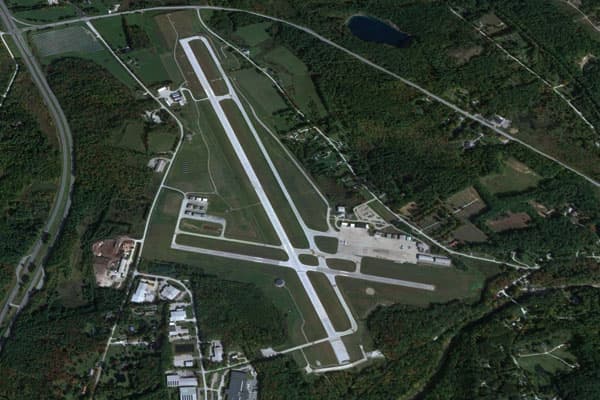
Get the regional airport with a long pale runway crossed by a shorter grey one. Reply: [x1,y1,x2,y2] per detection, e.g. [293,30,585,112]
[141,14,500,374]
